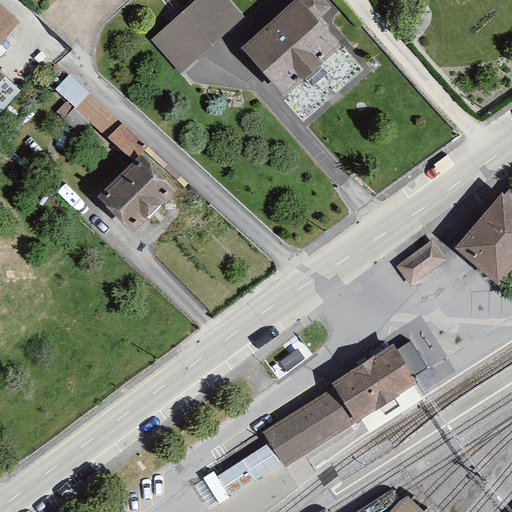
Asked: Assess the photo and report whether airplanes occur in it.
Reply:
No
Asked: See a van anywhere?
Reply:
Yes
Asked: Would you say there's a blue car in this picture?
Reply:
Yes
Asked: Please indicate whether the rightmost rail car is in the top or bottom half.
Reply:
bottom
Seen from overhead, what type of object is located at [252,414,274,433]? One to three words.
car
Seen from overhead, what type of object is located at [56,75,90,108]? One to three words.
shed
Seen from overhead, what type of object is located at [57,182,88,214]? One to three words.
van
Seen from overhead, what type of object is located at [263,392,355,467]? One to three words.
building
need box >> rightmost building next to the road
[455,182,512,284]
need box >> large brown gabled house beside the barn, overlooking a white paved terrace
[242,0,342,97]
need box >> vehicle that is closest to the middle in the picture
[254,328,278,348]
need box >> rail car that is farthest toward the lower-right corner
[355,489,399,512]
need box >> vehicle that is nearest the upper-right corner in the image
[428,154,455,178]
